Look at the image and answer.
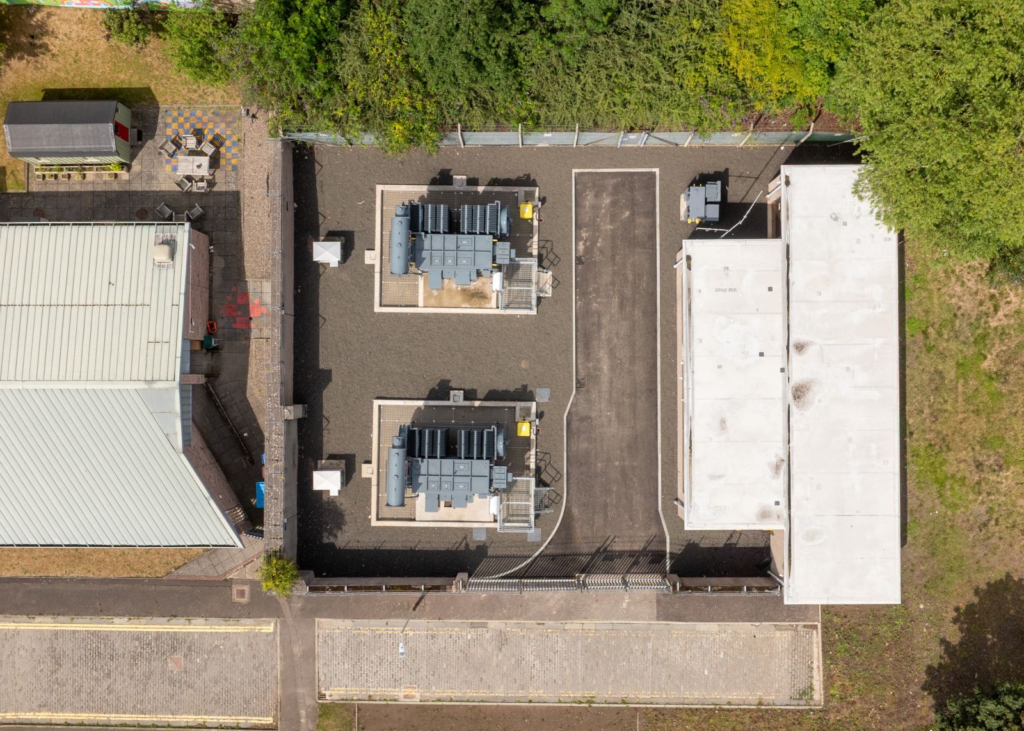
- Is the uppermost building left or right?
left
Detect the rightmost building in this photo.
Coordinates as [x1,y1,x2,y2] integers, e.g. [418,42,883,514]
[769,165,901,604]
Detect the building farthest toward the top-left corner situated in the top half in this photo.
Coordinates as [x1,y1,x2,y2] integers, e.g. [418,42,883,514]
[2,101,130,164]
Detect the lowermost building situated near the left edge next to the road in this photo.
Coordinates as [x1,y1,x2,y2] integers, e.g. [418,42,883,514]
[0,220,255,552]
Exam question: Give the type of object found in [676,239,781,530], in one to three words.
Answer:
building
